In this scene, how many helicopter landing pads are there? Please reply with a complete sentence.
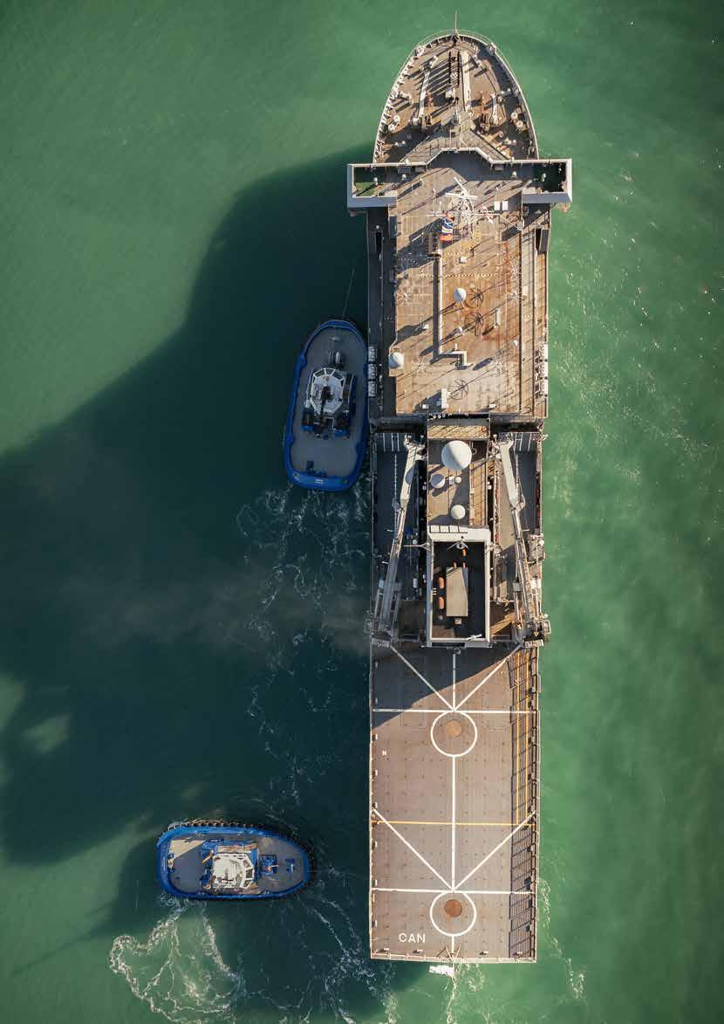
The number of helicopter landing pads here is 2.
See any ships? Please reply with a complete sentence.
Yes, there's a ship down there.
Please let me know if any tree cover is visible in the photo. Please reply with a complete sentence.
No, there's no tree cover in this view.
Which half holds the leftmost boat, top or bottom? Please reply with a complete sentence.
The bottom half of the photo is where the leftmost boat is.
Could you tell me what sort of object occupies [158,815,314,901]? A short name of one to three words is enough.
boat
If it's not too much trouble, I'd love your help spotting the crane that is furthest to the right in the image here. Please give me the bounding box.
[489,430,557,650]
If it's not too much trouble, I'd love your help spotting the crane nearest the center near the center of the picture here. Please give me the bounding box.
[368,430,428,651]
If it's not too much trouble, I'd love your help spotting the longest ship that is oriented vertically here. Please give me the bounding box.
[346,27,573,978]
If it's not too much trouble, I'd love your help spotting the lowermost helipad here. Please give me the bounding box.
[372,809,534,952]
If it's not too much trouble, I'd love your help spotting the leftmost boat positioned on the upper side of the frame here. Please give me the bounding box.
[283,320,367,490]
